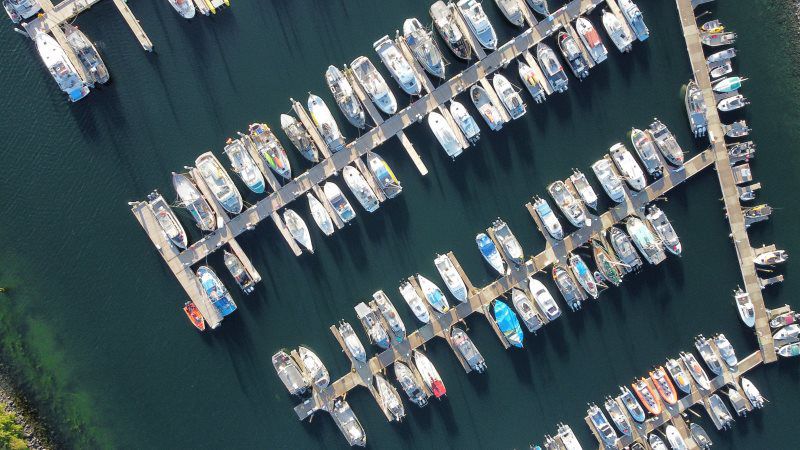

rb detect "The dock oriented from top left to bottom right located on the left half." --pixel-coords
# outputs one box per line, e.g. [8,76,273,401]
[128,199,225,330]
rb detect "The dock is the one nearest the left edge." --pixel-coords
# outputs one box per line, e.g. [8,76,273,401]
[14,0,152,83]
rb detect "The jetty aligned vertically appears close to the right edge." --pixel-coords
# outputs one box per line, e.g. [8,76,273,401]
[676,0,800,362]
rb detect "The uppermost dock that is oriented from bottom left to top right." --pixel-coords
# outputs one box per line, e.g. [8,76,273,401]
[180,0,636,279]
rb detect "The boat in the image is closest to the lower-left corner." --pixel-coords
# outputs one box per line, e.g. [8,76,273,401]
[183,298,205,330]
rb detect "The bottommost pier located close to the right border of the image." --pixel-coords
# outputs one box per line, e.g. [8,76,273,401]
[584,339,770,450]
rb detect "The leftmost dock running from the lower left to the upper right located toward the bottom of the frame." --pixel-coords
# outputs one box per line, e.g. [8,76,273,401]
[291,389,329,421]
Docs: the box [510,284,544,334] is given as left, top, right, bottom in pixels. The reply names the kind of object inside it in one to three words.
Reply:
boat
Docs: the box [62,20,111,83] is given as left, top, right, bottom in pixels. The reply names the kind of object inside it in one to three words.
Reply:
boat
